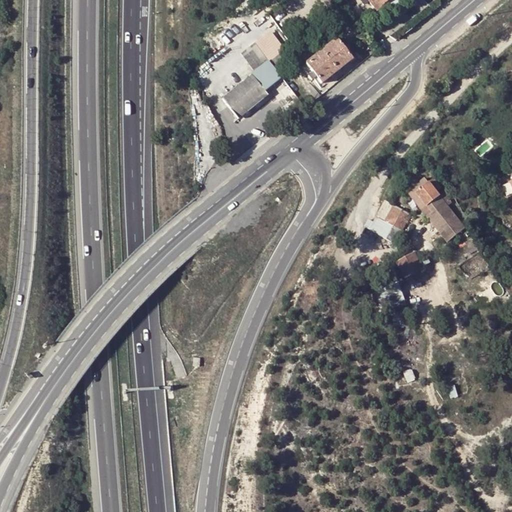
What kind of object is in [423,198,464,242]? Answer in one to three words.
house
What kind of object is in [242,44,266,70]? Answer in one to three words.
shed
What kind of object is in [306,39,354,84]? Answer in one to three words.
house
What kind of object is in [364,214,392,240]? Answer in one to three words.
building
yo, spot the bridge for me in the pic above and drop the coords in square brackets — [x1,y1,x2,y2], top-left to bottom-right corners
[39,218,199,388]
